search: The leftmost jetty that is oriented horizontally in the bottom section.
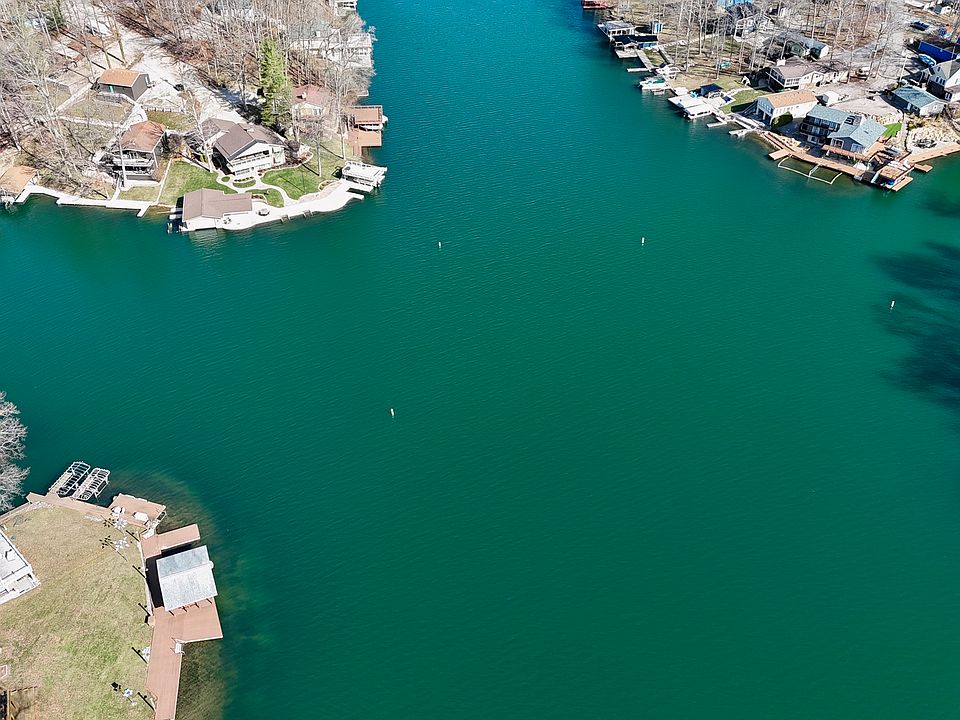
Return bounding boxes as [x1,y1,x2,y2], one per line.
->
[25,492,110,520]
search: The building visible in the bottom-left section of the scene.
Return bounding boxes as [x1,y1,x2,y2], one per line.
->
[153,544,220,622]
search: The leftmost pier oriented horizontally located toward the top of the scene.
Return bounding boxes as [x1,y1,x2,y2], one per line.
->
[32,184,158,222]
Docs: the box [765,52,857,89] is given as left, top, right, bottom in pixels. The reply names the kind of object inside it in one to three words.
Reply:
house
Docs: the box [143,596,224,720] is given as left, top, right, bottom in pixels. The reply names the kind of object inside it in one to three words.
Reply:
pier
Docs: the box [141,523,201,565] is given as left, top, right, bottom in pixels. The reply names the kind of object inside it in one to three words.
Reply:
pier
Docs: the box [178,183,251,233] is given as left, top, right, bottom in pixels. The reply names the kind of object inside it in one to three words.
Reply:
building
